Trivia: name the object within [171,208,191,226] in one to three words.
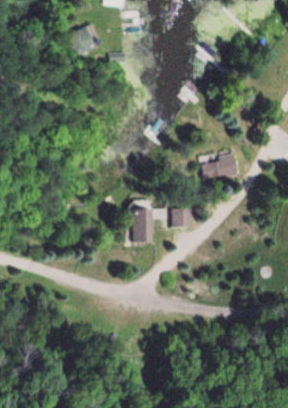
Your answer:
building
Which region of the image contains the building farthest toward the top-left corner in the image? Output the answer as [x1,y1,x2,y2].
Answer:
[72,24,100,53]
